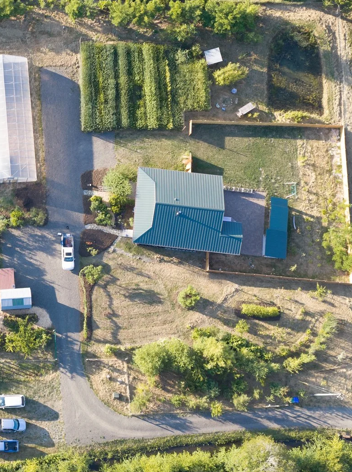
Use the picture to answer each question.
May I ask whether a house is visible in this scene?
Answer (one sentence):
Yes, there is a house in the image.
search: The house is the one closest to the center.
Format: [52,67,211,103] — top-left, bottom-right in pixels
[134,167,244,255]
